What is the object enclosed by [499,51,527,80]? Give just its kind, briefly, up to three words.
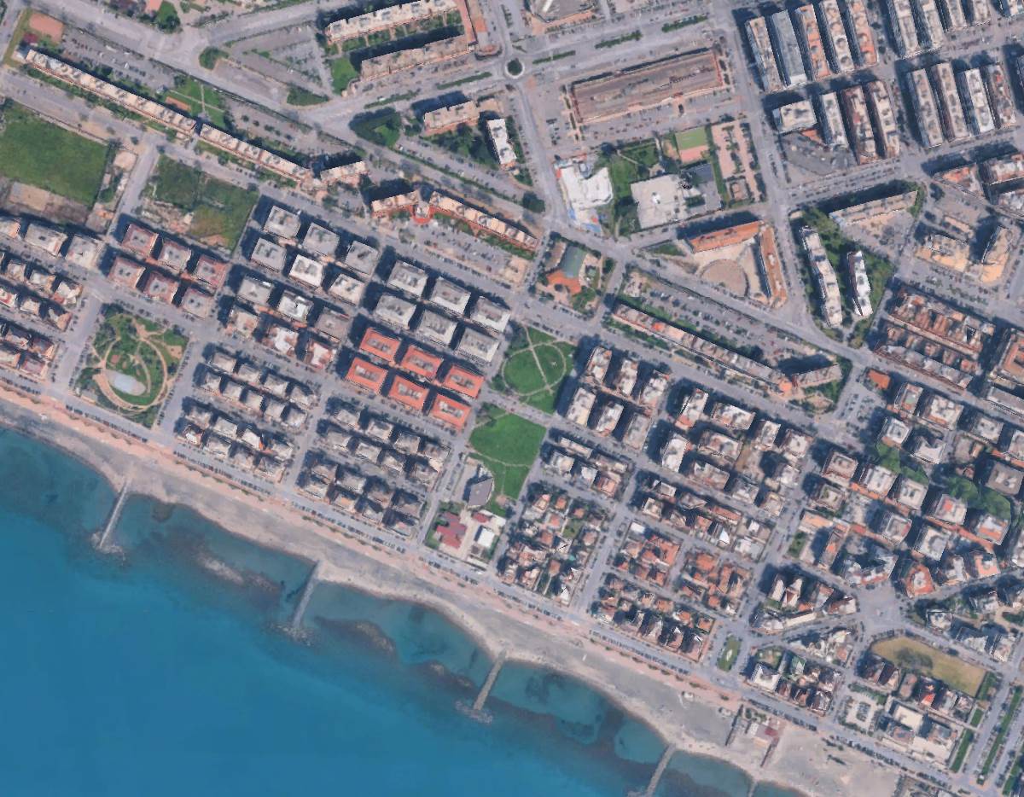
roundabout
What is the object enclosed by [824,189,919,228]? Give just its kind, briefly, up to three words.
building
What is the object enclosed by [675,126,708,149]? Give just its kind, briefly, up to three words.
sports court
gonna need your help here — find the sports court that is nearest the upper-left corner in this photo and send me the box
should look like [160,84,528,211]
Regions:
[30,13,63,42]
